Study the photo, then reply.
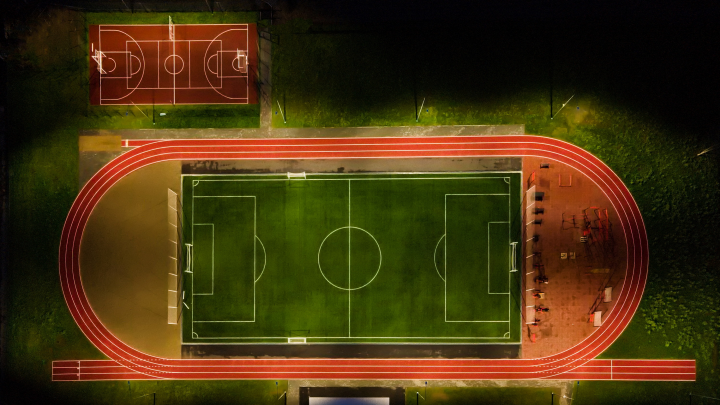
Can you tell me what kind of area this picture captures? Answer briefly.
sports ground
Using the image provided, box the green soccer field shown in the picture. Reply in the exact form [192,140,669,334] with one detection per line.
[181,171,522,345]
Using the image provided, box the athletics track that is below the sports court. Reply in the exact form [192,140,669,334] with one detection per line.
[52,133,696,382]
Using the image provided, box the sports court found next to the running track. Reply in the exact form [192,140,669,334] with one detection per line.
[89,23,258,105]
